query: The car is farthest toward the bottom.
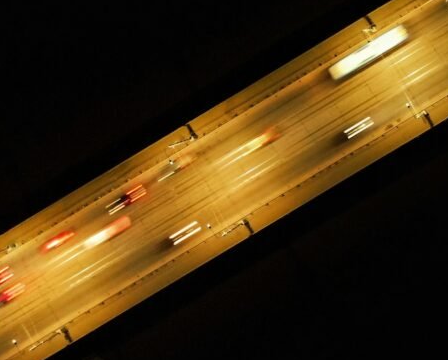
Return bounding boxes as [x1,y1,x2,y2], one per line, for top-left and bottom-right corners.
[0,288,18,306]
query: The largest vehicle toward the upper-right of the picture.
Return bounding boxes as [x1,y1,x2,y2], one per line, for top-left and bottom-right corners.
[327,25,408,82]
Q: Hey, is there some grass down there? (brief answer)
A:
No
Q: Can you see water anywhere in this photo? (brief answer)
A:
Yes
